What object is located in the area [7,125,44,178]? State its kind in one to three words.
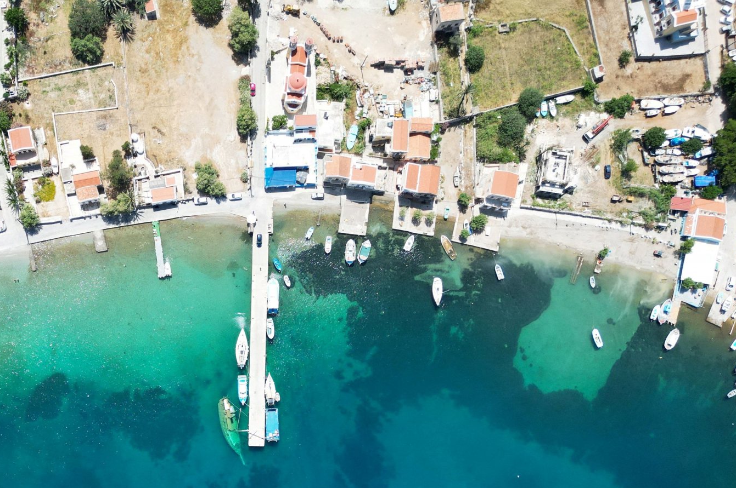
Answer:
house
